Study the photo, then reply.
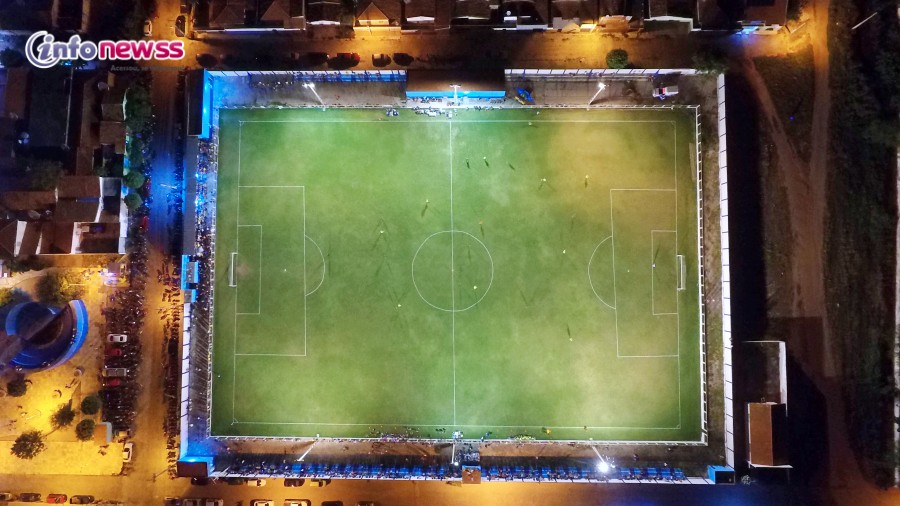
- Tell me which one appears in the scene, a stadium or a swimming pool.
stadium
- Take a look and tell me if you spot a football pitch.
Yes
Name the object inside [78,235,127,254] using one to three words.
house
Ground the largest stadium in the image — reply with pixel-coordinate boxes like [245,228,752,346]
[178,68,737,485]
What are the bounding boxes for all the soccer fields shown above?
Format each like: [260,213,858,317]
[211,107,702,442]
